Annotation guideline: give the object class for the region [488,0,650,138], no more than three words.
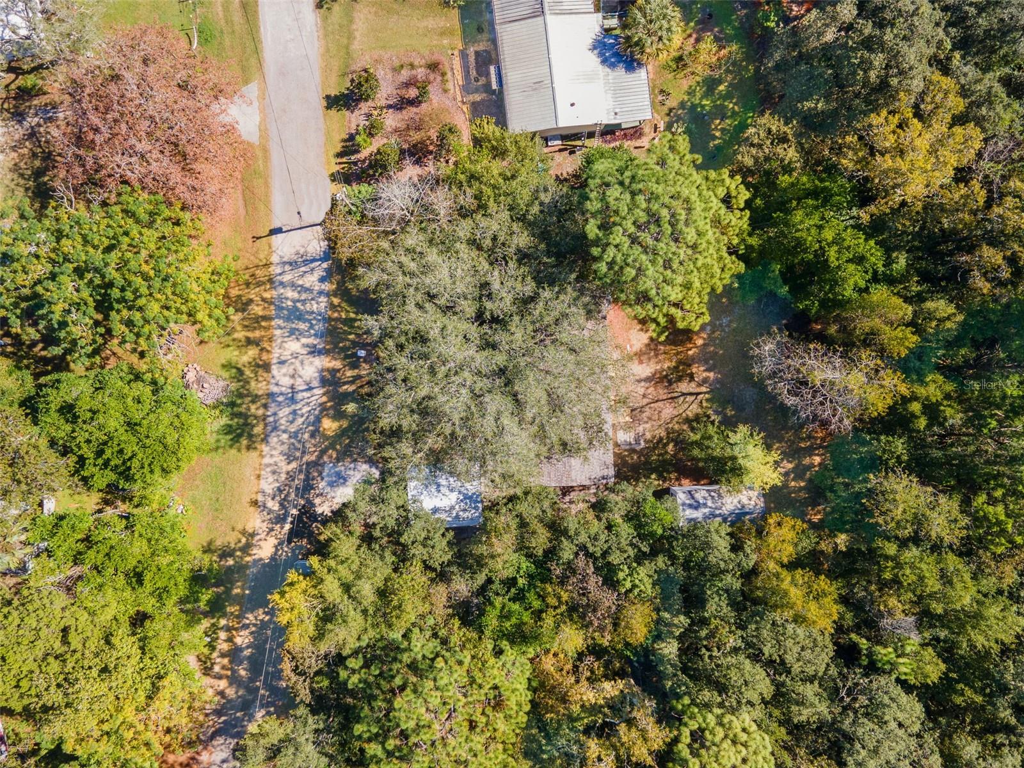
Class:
house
